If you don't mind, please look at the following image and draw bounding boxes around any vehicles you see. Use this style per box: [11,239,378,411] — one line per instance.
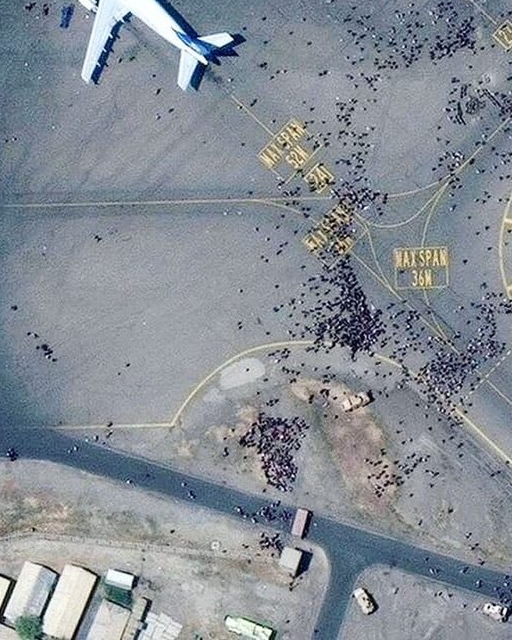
[483,604,509,620]
[292,508,308,538]
[340,391,372,412]
[355,587,374,615]
[225,615,273,640]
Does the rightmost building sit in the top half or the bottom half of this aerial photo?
bottom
